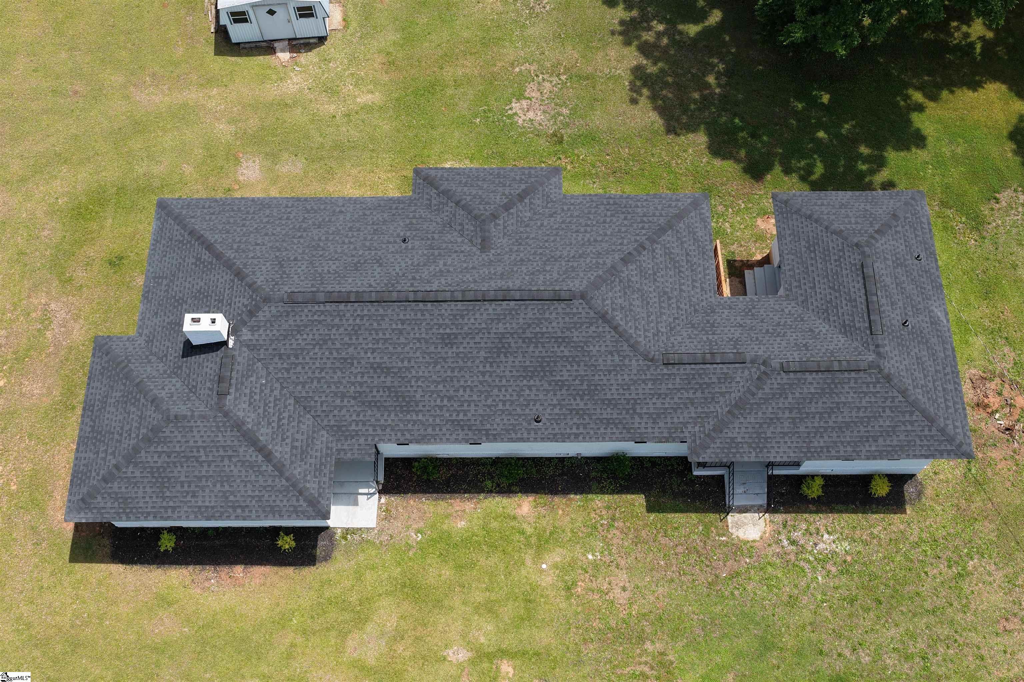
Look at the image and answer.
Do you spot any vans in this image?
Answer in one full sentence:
No, the scene contains no van.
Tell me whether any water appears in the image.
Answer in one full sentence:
No, the scene doesn't show any water.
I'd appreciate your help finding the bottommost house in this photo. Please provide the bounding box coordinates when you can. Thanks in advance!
[64,165,974,530]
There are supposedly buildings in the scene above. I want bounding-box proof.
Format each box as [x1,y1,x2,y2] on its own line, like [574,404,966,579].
[217,0,330,45]
[64,165,974,530]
